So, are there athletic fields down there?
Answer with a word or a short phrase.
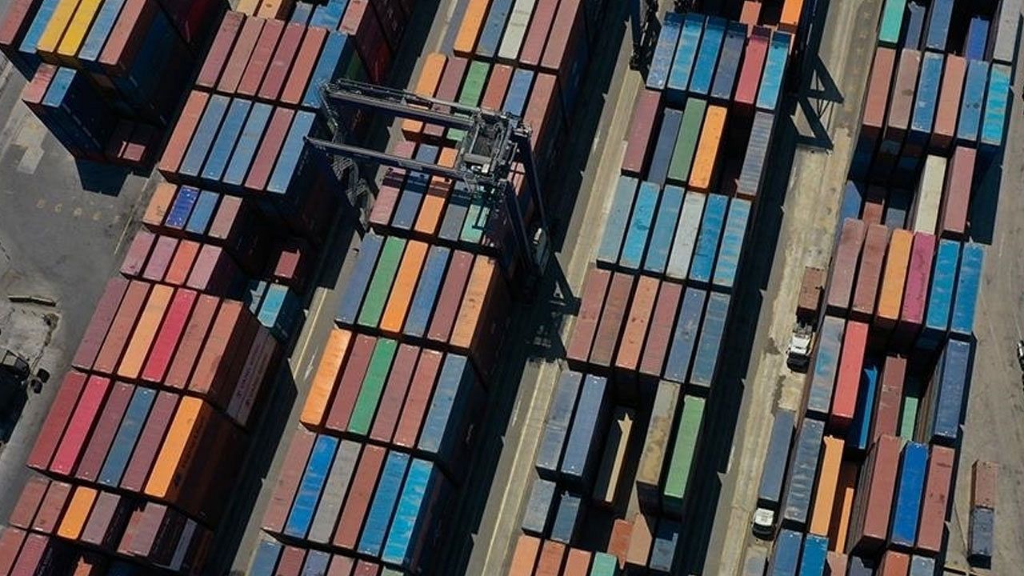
No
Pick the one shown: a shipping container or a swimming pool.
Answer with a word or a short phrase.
shipping container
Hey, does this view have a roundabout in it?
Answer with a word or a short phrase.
No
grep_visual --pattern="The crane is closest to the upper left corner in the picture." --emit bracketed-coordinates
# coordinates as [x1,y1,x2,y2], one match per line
[299,75,562,295]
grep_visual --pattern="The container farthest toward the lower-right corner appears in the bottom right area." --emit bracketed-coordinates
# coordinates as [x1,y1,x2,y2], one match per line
[965,507,995,563]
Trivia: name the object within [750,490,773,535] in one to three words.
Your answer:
truck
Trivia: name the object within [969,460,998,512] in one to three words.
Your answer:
shipping container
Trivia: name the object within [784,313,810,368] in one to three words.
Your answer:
truck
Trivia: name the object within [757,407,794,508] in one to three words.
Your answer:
shipping container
